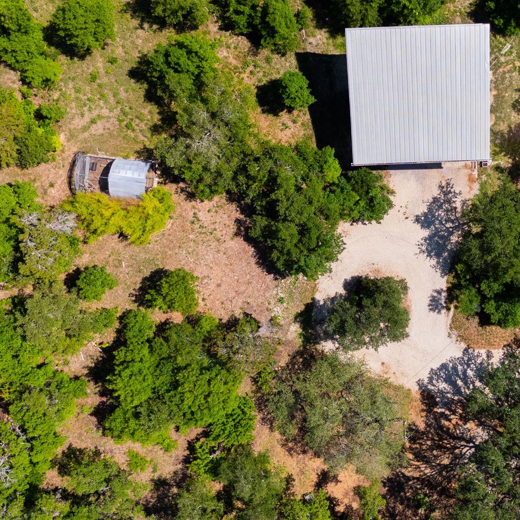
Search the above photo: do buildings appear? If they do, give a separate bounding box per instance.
[345,22,493,167]
[76,155,164,201]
